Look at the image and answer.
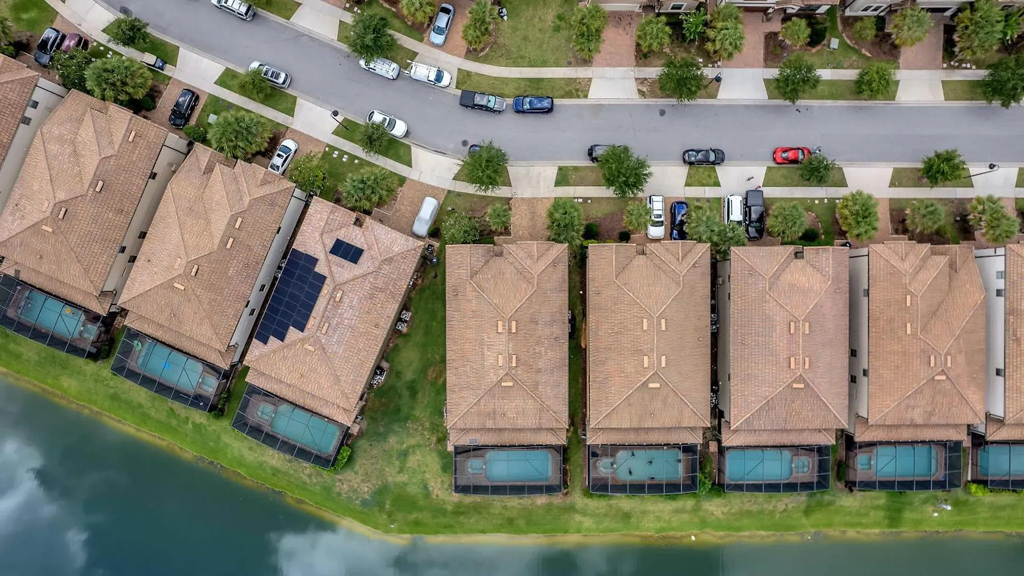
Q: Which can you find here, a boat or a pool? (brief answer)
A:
pool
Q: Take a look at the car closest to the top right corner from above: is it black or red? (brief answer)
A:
red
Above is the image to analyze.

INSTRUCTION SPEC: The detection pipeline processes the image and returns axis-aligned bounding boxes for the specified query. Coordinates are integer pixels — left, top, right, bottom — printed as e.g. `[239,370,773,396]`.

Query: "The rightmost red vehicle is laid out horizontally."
[772,145,812,165]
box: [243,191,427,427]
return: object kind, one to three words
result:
house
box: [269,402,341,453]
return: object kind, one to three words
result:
swimming pool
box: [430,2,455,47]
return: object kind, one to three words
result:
car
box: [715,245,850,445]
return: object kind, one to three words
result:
house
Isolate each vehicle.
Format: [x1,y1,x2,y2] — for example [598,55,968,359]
[586,144,619,163]
[723,195,745,226]
[170,86,200,130]
[365,109,410,140]
[744,189,765,239]
[513,94,553,115]
[358,56,402,84]
[138,48,169,71]
[211,0,257,25]
[459,90,506,114]
[249,60,294,92]
[34,23,67,68]
[402,55,454,88]
[682,146,724,166]
[772,145,812,165]
[430,2,455,47]
[61,25,91,58]
[268,137,298,177]
[669,201,687,239]
[646,195,667,239]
